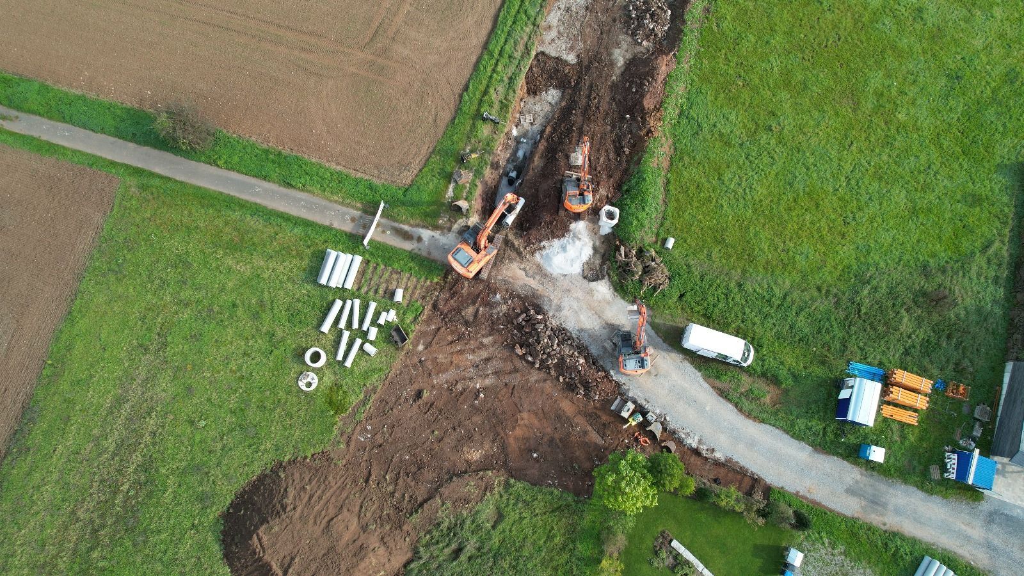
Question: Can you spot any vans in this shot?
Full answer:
Yes, there's a van here.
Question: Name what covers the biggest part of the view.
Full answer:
Most of the picture is covered by grass.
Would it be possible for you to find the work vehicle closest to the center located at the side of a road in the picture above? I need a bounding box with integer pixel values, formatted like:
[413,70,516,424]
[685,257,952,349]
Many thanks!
[450,195,519,280]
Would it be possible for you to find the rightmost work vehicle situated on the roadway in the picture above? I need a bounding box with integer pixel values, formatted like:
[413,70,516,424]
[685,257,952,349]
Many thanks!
[606,306,661,383]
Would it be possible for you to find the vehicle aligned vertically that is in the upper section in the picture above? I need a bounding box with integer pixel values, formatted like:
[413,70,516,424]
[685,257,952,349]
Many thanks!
[559,139,592,216]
